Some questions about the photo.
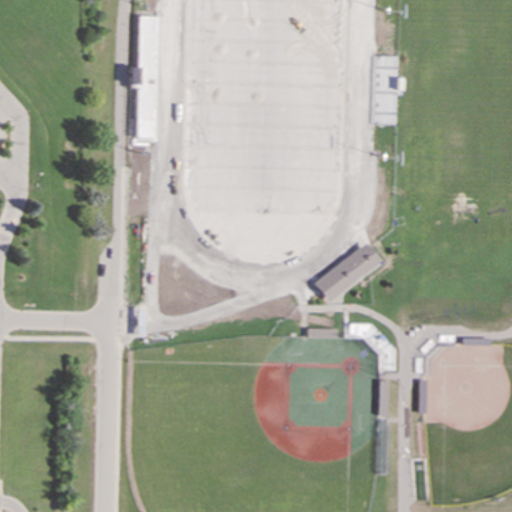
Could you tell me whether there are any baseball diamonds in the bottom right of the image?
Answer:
Yes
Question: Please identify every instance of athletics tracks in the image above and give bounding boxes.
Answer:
[170,0,372,284]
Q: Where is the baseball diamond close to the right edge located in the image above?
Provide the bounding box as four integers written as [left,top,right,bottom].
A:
[426,346,512,506]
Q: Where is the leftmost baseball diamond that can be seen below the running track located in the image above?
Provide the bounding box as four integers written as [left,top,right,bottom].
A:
[132,338,378,512]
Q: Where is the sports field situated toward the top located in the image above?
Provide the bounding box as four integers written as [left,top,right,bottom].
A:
[187,0,344,264]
